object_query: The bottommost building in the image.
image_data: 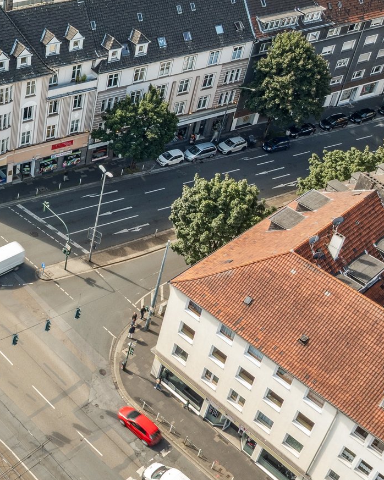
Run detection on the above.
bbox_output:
[148,180,384,480]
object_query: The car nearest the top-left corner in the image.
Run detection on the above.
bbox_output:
[154,148,189,169]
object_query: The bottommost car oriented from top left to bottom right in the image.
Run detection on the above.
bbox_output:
[109,404,171,455]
